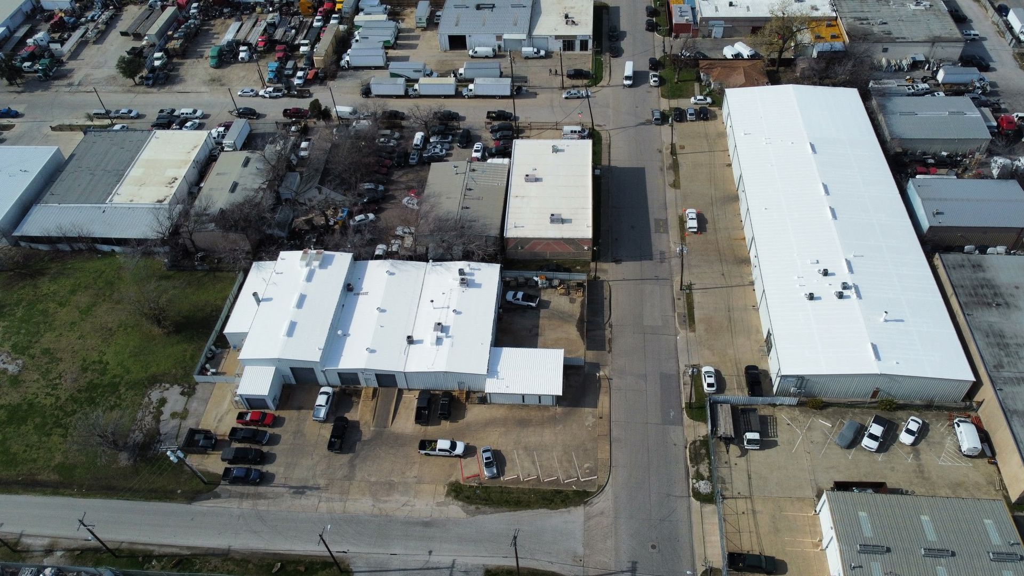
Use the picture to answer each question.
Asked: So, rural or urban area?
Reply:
urban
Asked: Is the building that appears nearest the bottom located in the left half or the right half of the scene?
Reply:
right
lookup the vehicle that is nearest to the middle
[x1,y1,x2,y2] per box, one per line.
[503,291,541,309]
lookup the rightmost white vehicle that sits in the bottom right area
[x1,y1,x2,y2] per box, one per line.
[954,419,983,456]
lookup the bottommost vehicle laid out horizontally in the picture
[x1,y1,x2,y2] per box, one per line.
[725,551,778,574]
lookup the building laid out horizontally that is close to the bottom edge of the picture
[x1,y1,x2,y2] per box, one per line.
[819,491,1024,576]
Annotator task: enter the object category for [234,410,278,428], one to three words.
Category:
vehicle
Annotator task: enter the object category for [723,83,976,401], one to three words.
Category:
warehouse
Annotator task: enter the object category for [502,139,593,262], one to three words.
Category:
building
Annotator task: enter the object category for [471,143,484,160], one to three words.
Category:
vehicle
